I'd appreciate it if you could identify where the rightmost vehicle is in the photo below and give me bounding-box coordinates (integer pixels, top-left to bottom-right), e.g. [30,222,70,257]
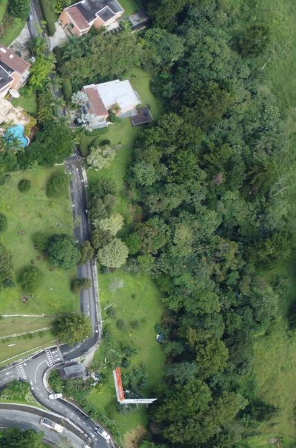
[98,427,113,442]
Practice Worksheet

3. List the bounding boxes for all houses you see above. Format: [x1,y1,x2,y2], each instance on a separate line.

[58,0,125,40]
[0,45,32,100]
[75,79,143,128]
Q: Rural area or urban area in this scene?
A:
rural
